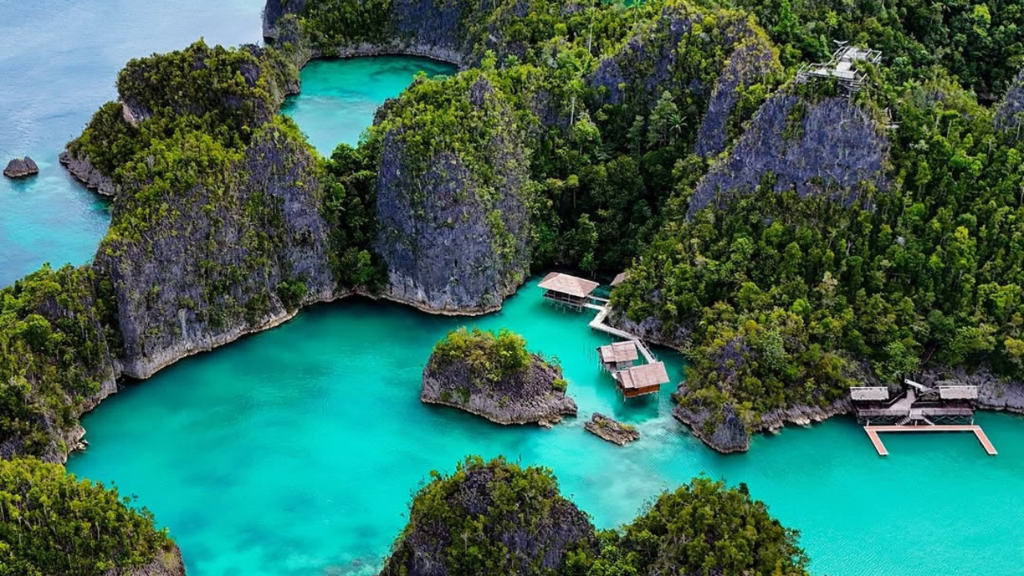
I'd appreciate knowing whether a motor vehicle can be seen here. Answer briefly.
No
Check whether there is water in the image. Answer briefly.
Yes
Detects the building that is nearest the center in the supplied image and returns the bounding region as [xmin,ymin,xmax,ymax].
[538,271,595,309]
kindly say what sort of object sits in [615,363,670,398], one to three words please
shed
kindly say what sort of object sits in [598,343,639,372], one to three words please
shed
